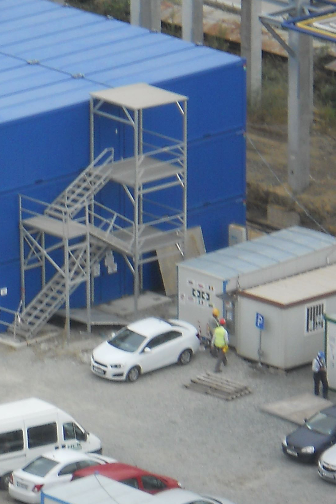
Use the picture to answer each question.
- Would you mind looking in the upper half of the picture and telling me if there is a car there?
No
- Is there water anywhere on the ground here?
No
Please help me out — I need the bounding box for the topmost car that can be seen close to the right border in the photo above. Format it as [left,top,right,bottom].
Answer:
[276,412,336,467]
